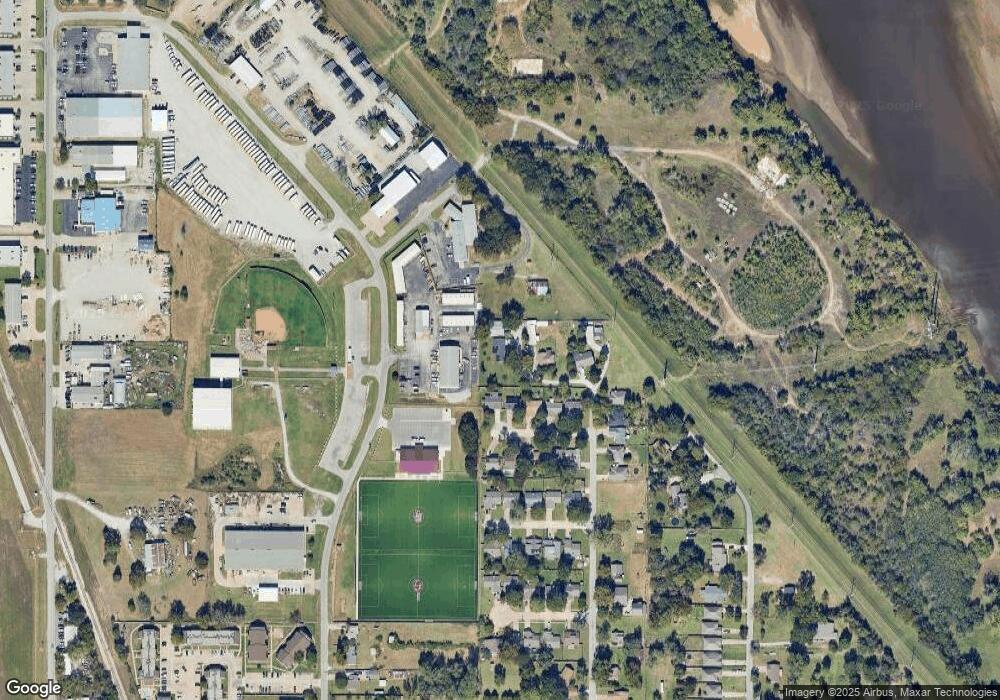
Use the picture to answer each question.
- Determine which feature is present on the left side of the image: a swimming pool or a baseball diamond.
baseball diamond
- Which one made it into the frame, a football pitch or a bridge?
football pitch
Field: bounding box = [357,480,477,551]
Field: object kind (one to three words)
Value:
soccer field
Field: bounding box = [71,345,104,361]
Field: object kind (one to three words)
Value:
building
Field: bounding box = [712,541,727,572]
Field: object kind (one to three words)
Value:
house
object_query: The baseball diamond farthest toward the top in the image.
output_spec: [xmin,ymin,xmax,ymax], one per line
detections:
[214,266,327,367]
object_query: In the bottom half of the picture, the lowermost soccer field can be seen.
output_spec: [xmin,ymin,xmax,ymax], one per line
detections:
[357,551,478,620]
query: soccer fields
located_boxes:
[357,480,477,551]
[357,551,478,620]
